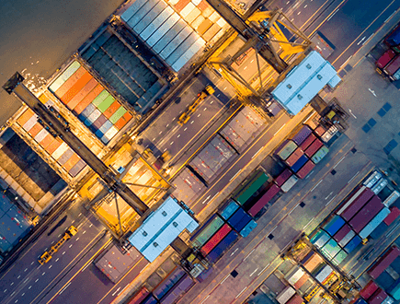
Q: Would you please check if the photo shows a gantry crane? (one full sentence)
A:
Yes, there's a gantry crane here.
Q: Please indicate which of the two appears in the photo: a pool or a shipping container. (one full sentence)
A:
Visible in the photo is a shipping container.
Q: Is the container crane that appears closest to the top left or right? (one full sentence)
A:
The container crane that appears closest to the top sits on the right side.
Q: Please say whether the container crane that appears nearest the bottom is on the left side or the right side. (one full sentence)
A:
The container crane that appears nearest the bottom appears in the right half of the scene.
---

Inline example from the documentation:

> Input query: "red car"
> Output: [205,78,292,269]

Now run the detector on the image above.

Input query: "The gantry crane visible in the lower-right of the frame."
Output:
[280,229,364,304]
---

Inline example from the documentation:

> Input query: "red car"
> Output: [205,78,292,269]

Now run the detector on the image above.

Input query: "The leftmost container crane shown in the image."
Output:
[0,71,211,278]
